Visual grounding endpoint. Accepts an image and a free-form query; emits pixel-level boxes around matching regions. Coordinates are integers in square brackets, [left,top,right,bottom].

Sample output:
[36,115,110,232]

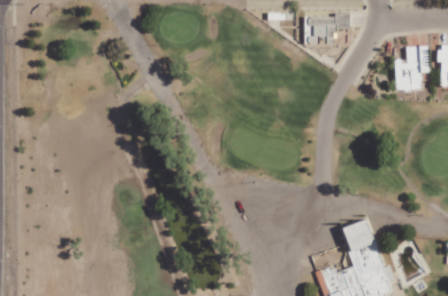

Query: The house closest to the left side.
[305,16,336,44]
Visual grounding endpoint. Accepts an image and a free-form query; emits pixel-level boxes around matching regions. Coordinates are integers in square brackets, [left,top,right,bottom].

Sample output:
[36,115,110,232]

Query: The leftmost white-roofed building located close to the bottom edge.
[316,220,396,296]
